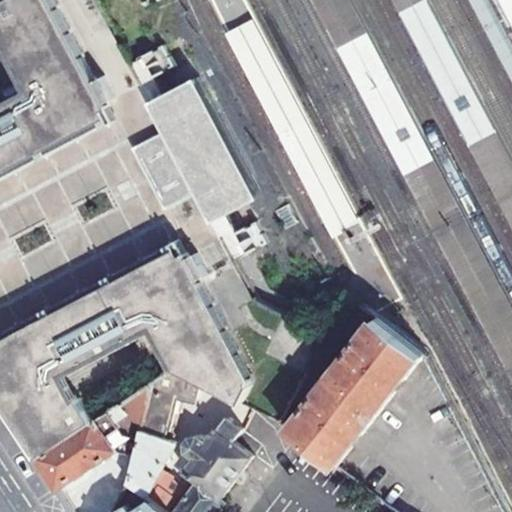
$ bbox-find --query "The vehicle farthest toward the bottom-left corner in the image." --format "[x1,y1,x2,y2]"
[15,456,33,478]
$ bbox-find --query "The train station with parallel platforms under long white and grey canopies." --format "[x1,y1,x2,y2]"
[214,0,512,379]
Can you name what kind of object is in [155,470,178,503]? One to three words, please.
house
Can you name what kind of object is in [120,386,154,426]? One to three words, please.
shed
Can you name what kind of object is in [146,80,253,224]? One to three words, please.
building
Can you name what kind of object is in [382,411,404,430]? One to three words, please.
car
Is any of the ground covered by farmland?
No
